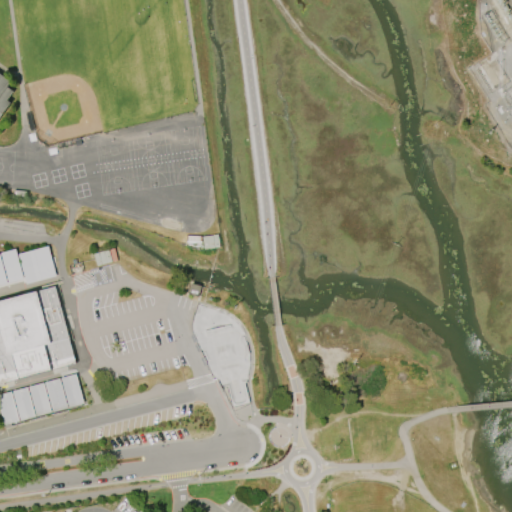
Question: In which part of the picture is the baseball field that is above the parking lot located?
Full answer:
Look in the top left portion of the view to spot the baseball field that is above the parking lot.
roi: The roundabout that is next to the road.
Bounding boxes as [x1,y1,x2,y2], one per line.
[256,431,334,512]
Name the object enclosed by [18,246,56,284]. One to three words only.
building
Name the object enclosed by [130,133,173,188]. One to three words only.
basketball court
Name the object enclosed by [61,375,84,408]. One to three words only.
building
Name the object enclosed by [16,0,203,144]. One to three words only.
baseball field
